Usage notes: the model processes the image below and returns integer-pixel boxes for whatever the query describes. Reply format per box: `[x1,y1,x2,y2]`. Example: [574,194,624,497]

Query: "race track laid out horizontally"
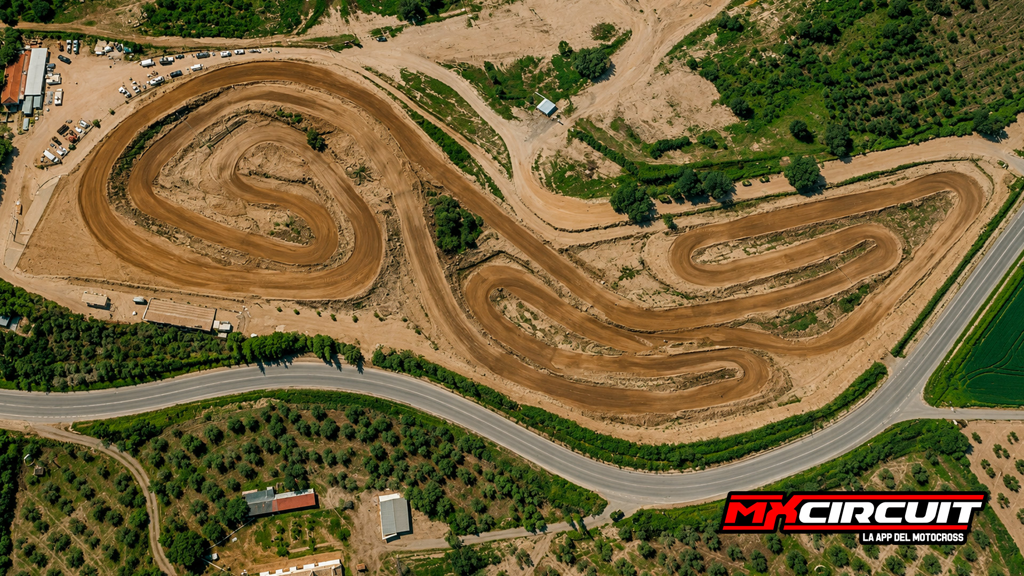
[78,61,983,414]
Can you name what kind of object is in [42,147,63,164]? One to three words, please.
vehicle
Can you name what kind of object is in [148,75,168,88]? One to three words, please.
vehicle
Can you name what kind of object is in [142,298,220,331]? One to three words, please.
barn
